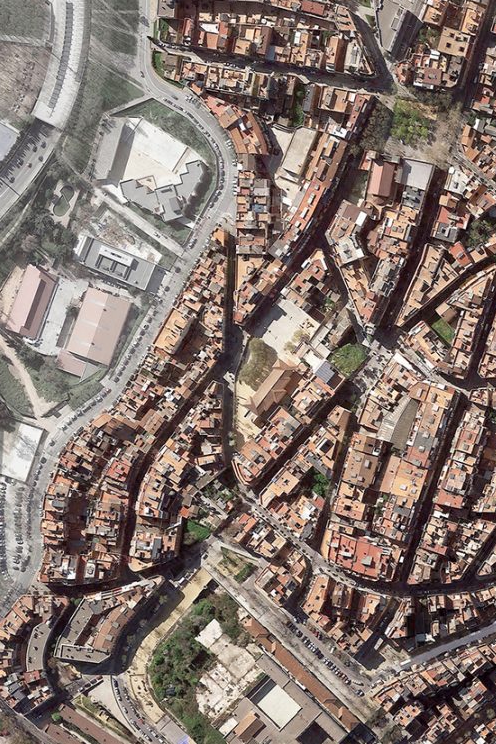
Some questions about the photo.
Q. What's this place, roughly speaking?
residential area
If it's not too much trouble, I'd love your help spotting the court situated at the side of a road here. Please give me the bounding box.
[1,423,44,481]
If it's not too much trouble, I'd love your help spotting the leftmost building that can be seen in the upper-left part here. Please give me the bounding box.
[0,122,18,161]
